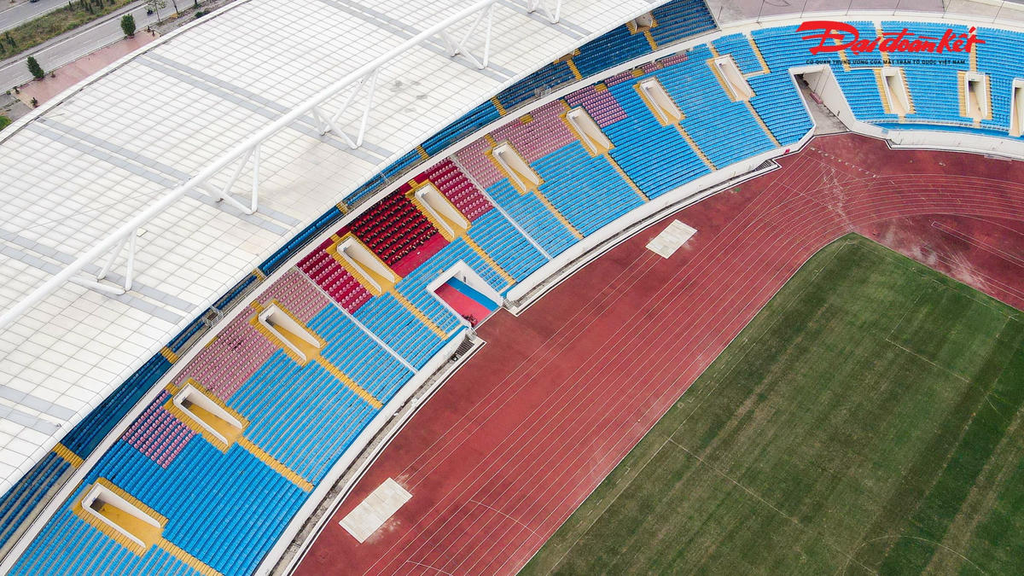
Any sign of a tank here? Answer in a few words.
No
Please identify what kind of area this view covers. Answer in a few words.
sports ground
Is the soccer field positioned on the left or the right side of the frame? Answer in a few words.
right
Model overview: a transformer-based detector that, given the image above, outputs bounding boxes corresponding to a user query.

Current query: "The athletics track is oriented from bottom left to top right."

[281,134,1024,576]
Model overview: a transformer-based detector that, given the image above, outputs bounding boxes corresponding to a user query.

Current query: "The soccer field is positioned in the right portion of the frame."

[519,232,1024,576]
